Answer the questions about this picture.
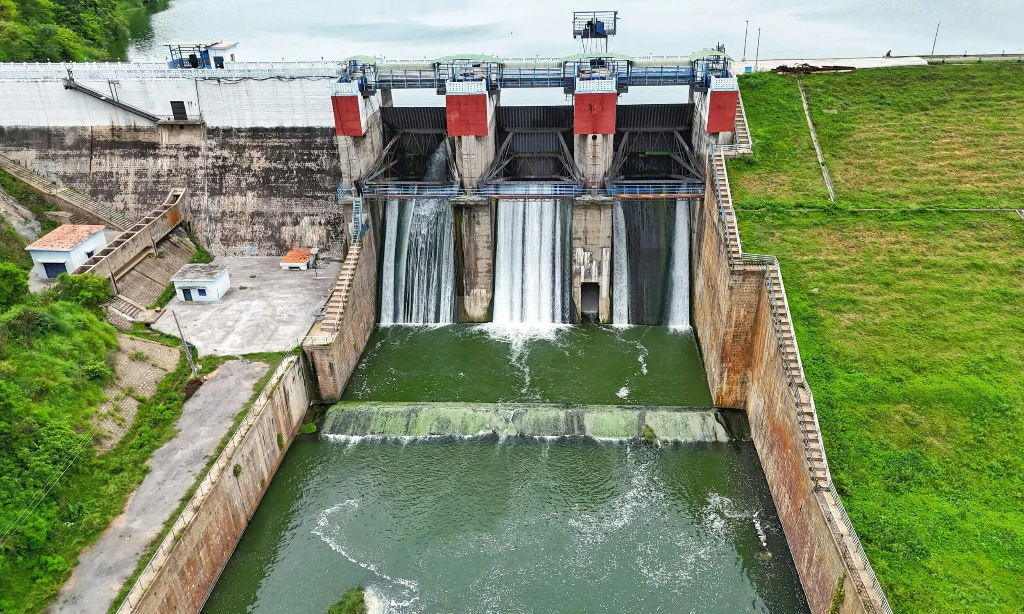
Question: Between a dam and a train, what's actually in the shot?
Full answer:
There is a dam in the scene.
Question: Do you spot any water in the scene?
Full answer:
Yes, there is water in the image.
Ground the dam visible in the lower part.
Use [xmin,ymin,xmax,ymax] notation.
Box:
[323,399,751,443]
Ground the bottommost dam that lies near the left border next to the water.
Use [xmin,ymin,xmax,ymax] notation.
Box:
[0,76,346,259]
